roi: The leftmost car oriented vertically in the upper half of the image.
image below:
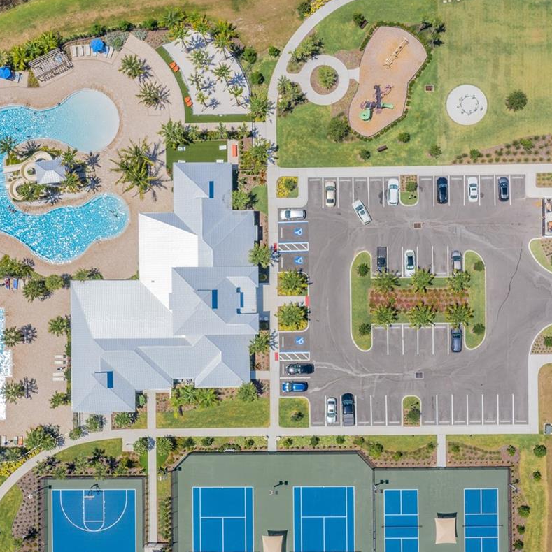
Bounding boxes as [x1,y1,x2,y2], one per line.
[325,180,337,207]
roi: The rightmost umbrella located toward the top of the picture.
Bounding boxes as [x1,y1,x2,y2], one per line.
[90,37,104,51]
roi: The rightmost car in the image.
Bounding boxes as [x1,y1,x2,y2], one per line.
[497,176,510,202]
